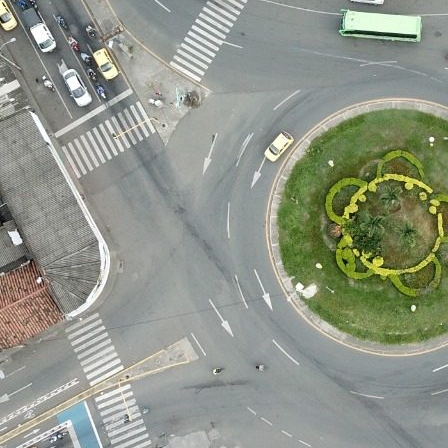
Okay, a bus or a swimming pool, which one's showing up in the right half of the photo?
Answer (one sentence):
You can see a bus in the right half of the photo.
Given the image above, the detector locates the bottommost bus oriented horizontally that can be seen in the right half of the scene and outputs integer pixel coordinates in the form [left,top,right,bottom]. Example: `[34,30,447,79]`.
[336,7,421,40]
